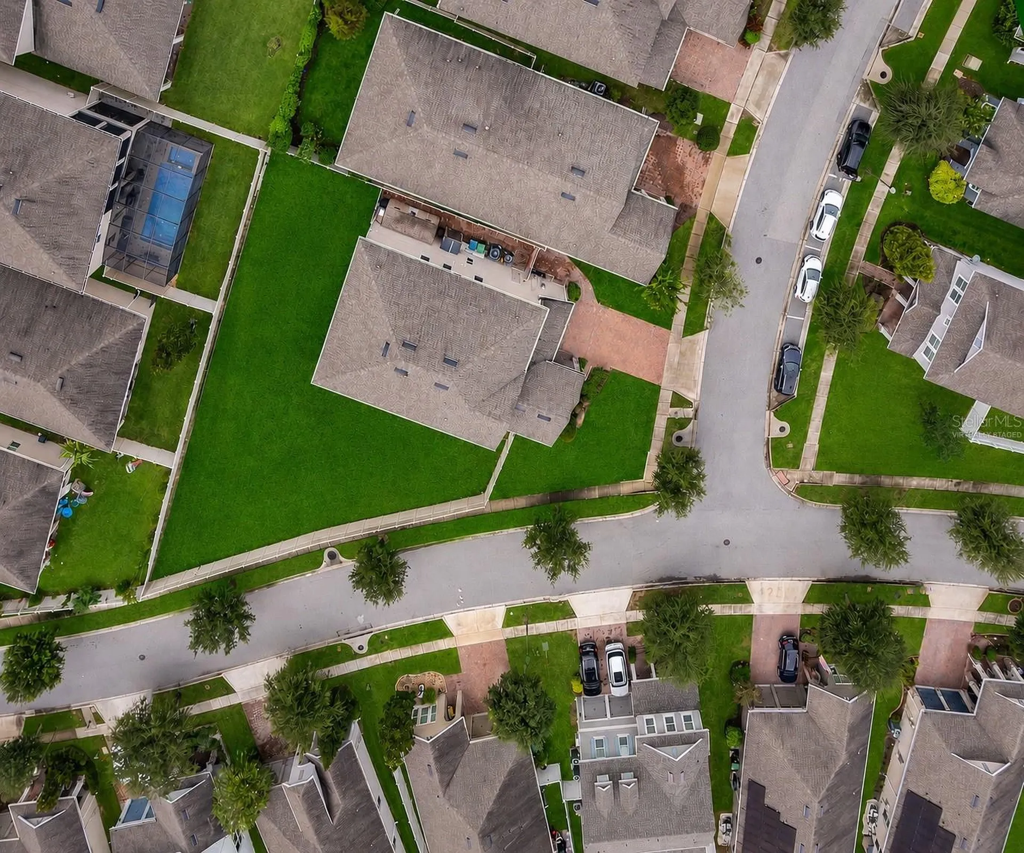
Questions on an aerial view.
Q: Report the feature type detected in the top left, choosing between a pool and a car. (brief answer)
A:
pool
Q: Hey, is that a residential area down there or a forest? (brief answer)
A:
residential area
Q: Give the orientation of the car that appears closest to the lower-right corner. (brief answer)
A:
from top to bottom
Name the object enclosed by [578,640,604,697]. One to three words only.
car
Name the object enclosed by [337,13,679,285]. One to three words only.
house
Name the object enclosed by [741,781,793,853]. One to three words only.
solar array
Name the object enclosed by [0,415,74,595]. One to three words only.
house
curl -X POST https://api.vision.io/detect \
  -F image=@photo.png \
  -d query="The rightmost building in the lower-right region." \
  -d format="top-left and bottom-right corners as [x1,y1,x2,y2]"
[866,653,1024,853]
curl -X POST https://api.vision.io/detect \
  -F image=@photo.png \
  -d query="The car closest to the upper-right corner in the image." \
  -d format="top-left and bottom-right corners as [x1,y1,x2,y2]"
[836,118,875,181]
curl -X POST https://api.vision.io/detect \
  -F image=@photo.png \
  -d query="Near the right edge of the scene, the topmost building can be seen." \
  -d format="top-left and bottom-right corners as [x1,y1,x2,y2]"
[991,27,1024,64]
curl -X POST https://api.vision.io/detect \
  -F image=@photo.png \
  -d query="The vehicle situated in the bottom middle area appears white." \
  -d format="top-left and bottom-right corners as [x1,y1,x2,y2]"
[603,640,631,697]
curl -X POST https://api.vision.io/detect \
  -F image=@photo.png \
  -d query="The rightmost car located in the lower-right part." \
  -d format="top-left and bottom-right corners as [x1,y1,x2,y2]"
[775,632,802,683]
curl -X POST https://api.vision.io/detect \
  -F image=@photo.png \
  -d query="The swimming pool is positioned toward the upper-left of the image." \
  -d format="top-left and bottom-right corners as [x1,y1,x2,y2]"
[117,130,202,270]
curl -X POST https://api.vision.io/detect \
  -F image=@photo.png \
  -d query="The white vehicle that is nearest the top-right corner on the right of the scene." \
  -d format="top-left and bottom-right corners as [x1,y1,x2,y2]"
[810,188,845,243]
